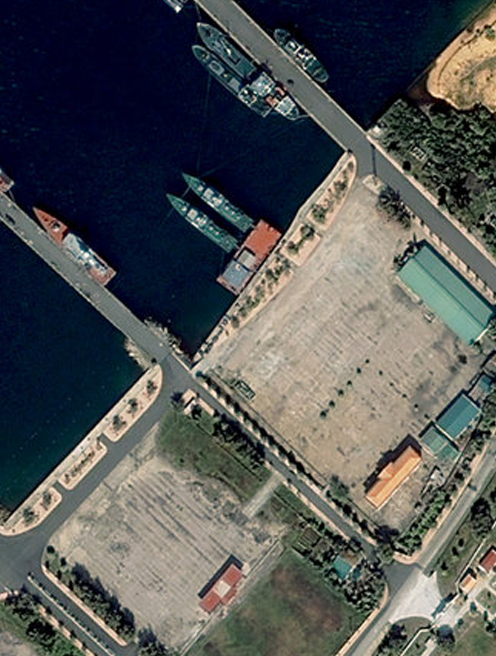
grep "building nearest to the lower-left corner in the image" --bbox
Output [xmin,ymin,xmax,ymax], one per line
[199,565,246,611]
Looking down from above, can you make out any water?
Yes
